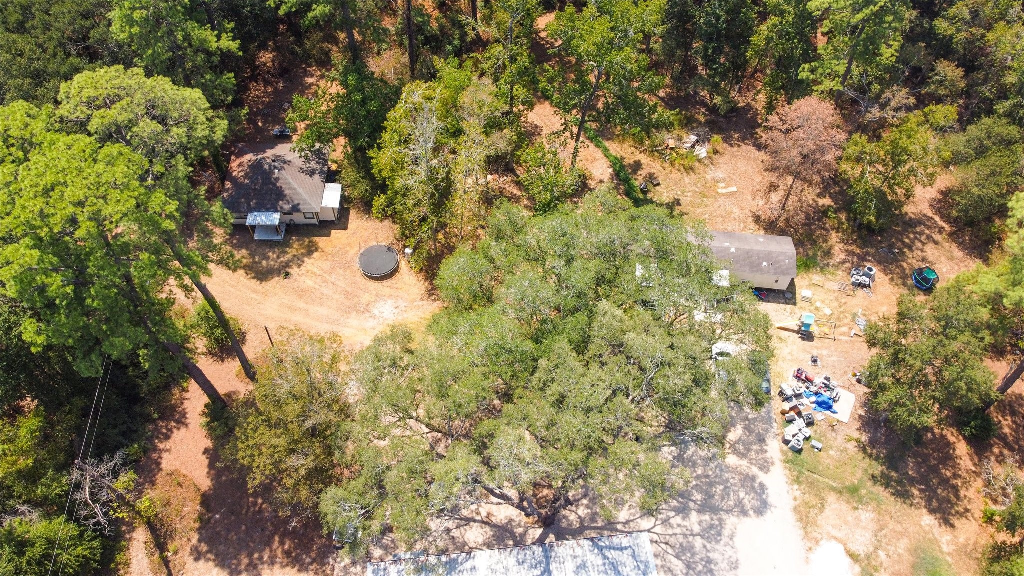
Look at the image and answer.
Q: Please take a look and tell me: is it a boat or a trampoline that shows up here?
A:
trampoline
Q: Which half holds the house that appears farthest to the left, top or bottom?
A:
top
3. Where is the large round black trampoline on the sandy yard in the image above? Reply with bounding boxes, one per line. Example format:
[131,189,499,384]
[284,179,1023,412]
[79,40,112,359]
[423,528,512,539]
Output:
[356,240,401,282]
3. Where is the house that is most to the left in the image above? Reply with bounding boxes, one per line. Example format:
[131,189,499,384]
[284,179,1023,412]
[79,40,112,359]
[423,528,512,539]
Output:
[215,143,345,247]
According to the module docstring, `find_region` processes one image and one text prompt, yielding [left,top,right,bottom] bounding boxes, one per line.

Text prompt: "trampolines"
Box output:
[910,266,943,295]
[356,240,401,282]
